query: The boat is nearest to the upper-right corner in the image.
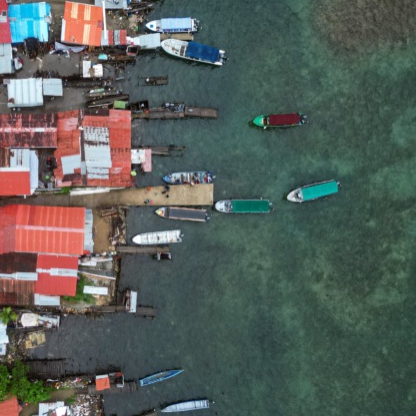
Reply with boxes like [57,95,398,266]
[254,112,308,125]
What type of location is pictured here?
residential area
